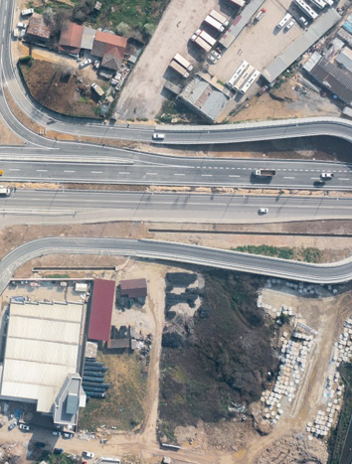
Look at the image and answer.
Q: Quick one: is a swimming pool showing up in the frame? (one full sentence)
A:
No, the frame has no swimming pool in it.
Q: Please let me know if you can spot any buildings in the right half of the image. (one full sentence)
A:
Yes, I can see a building in the right half of the image.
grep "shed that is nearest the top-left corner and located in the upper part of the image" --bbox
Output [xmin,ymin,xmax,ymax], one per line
[25,12,51,39]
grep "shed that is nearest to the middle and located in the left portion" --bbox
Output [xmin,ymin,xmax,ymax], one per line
[118,278,148,297]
